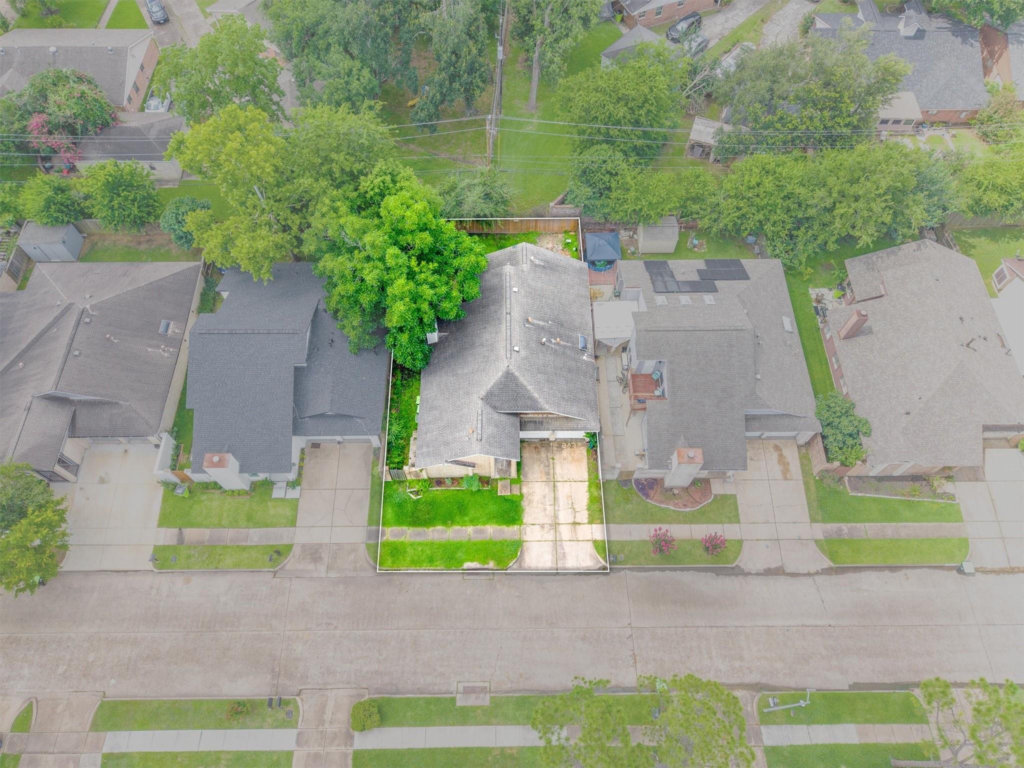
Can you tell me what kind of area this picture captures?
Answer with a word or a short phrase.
residential area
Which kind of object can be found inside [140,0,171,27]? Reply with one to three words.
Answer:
car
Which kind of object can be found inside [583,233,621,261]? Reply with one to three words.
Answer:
gazebo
